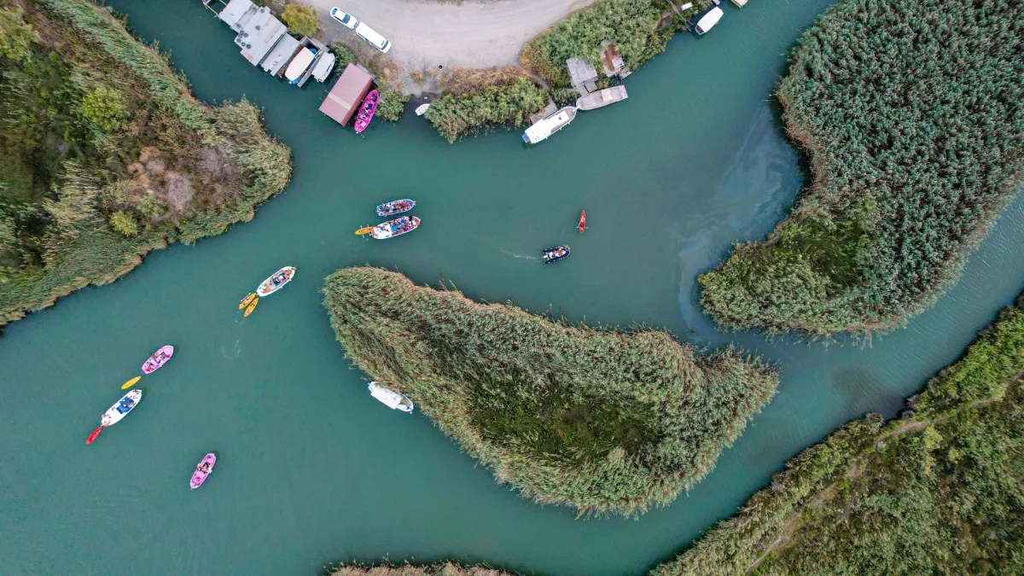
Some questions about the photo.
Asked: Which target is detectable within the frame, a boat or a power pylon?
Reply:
boat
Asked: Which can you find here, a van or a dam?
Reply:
van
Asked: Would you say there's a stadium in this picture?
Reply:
No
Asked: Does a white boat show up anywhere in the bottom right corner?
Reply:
No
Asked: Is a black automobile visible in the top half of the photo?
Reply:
No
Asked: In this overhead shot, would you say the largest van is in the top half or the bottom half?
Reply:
top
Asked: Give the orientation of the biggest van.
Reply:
at an angle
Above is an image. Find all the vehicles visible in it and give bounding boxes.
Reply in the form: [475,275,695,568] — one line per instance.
[329,7,359,31]
[355,21,393,55]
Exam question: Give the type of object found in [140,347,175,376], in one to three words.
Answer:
boat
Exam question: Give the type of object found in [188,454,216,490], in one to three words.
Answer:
boat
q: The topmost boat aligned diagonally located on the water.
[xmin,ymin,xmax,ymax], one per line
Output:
[693,7,725,37]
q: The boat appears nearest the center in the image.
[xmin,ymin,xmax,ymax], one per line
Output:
[543,247,571,262]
